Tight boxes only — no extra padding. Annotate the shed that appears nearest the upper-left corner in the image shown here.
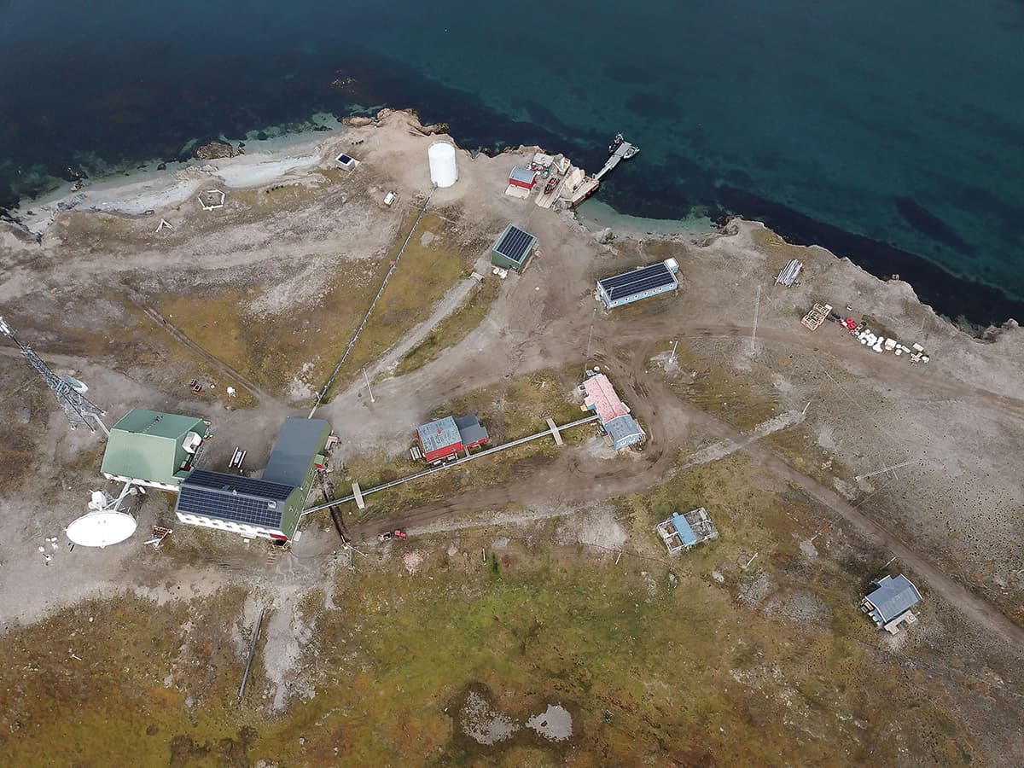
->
[335,153,360,175]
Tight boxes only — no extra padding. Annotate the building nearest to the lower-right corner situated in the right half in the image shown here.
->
[861,572,924,640]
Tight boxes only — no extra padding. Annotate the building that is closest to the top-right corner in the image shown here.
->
[593,257,680,311]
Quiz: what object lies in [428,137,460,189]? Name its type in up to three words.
storage tank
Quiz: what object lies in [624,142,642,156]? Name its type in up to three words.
boat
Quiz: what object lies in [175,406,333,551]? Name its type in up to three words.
building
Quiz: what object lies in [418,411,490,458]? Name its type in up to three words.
house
